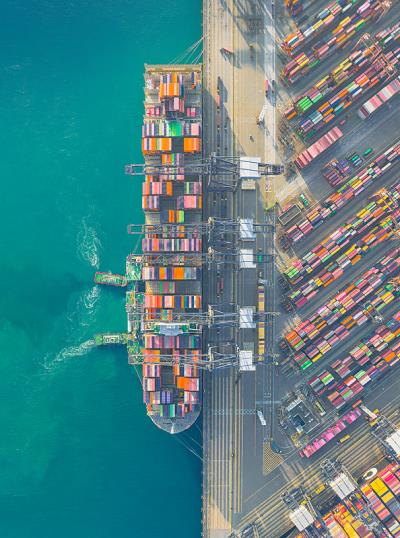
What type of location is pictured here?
port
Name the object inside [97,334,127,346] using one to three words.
boat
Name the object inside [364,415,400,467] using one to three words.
container crane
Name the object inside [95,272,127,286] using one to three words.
boat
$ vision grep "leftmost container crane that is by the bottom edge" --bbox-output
[279,481,330,538]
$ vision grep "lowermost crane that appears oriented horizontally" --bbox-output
[126,337,281,372]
